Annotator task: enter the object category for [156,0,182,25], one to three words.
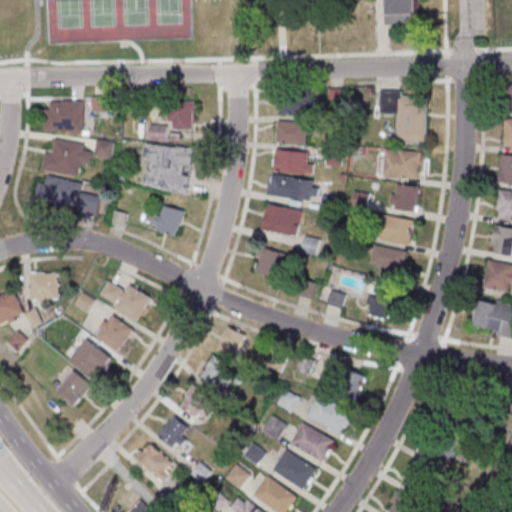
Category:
tennis court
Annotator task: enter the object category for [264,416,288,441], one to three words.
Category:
building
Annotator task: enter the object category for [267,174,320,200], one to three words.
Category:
house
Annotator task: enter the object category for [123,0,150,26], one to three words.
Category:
tennis court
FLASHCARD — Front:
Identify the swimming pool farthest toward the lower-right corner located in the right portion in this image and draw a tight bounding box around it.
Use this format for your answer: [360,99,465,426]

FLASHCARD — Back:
[326,268,366,303]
